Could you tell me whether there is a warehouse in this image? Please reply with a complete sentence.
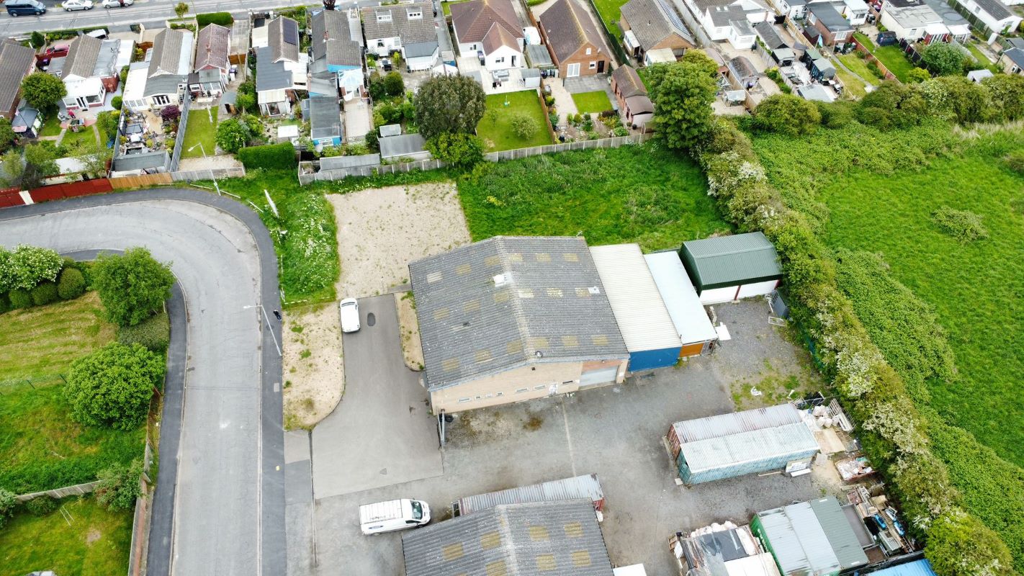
Yes, there is a warehouse in the image.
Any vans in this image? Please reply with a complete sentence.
Yes, there's a van down there.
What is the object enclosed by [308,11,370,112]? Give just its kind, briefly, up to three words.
house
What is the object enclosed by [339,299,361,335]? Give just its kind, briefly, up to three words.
car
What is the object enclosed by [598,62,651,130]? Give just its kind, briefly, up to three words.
building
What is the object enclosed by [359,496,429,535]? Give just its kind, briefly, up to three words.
van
